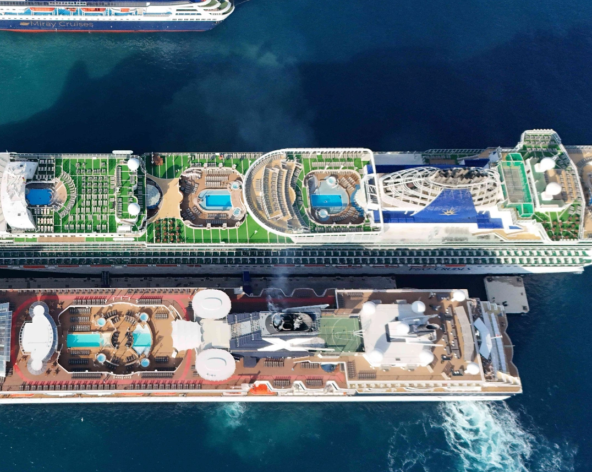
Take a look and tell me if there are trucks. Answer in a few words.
No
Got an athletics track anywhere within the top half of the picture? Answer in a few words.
No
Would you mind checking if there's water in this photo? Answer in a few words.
Yes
